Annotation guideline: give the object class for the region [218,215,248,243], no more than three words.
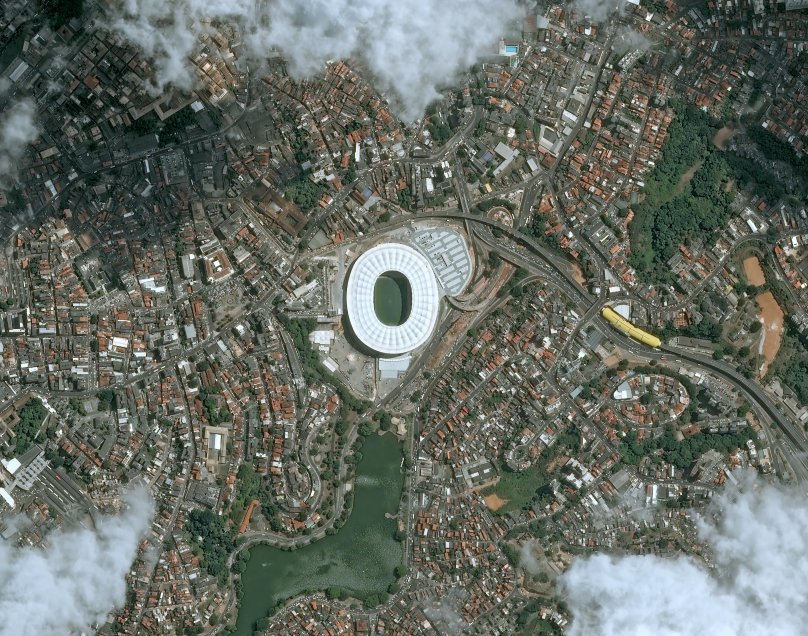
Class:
building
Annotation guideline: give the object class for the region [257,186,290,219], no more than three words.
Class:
building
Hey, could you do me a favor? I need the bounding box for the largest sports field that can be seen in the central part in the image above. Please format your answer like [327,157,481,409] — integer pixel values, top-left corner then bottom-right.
[373,271,412,327]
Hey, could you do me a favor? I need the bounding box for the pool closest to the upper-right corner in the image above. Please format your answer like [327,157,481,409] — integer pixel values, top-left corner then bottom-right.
[499,39,519,55]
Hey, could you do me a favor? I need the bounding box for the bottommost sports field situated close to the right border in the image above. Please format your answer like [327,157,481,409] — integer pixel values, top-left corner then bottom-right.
[758,291,785,378]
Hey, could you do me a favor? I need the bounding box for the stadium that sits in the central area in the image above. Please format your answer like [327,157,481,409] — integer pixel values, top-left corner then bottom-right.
[343,243,440,356]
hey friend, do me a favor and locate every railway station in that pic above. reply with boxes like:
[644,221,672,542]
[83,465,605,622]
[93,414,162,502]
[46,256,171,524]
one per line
[600,307,661,349]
